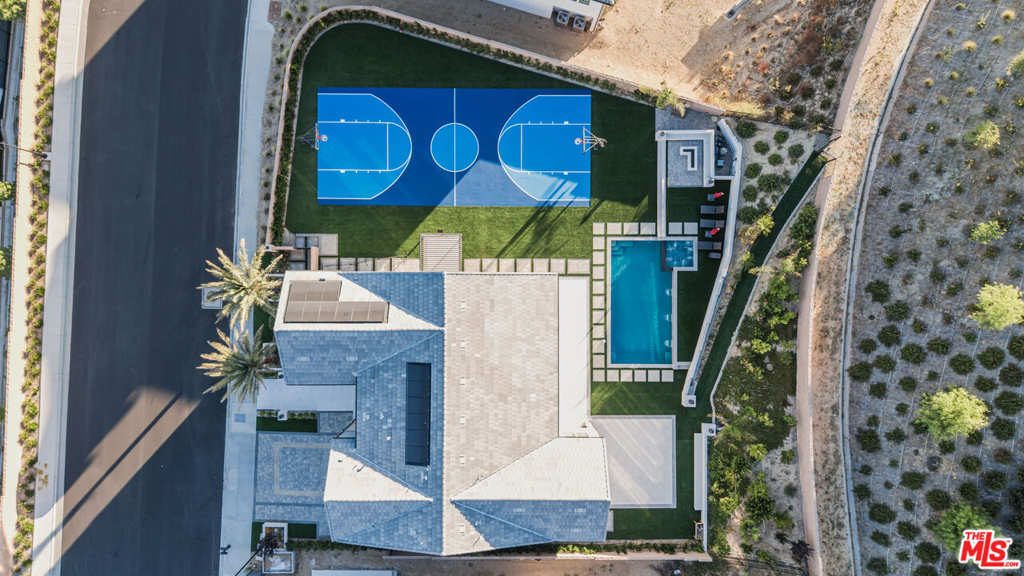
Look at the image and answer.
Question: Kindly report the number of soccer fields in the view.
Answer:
0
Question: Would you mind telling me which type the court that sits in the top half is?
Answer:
basketball court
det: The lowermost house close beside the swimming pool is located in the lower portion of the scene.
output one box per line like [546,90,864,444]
[275,271,611,556]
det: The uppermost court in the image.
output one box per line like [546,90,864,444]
[318,88,591,206]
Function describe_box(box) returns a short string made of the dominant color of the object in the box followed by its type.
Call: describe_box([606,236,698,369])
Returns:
blue swimming pool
